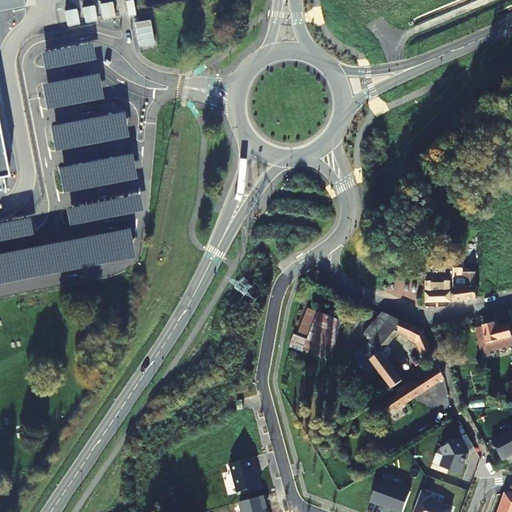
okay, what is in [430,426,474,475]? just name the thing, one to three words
house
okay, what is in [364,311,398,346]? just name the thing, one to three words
barn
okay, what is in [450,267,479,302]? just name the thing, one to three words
house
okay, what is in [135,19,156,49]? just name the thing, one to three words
building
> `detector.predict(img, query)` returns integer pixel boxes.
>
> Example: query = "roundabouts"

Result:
[228,0,402,194]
